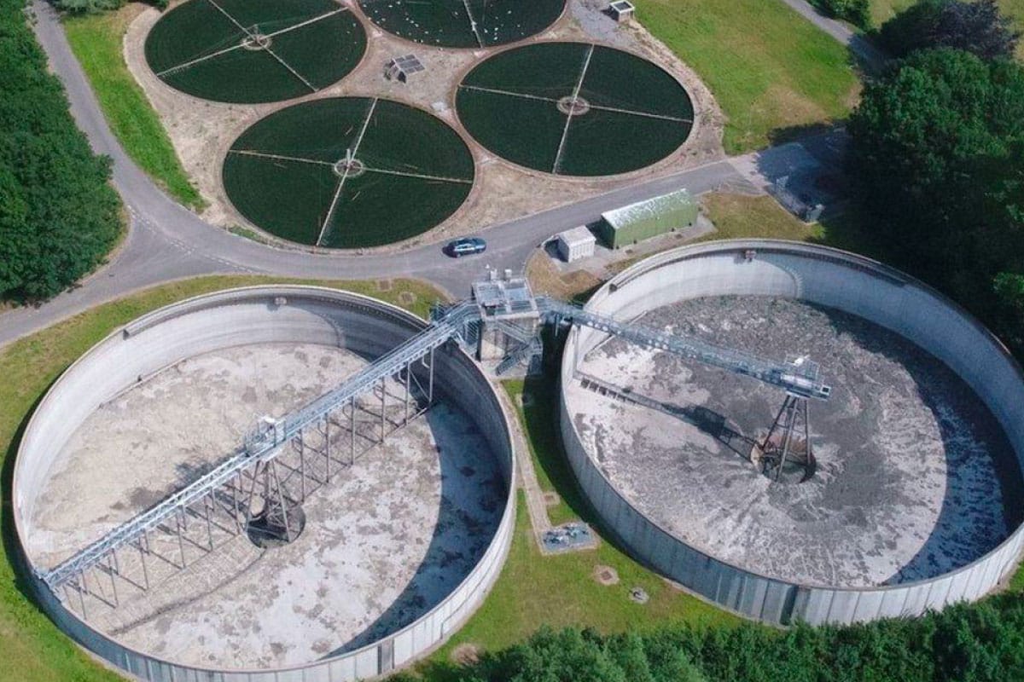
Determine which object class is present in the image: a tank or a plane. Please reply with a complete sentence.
There is a tank in the scene.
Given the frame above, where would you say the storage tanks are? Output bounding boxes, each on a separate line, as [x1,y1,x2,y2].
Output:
[11,284,519,682]
[552,239,1024,636]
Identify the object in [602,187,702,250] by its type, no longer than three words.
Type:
building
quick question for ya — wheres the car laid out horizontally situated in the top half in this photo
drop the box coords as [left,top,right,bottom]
[445,235,487,257]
